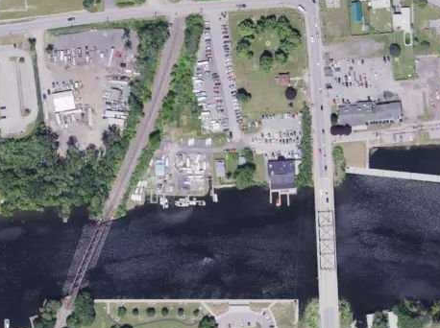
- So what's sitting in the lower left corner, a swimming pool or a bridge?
bridge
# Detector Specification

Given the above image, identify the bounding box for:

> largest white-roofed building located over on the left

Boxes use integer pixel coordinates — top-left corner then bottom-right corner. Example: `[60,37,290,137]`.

[53,89,82,115]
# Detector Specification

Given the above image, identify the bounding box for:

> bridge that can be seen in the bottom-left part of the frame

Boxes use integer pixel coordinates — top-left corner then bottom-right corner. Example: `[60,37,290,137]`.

[66,217,109,300]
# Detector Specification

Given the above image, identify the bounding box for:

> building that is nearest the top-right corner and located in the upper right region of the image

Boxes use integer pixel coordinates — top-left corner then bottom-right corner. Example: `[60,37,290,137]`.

[393,6,412,30]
